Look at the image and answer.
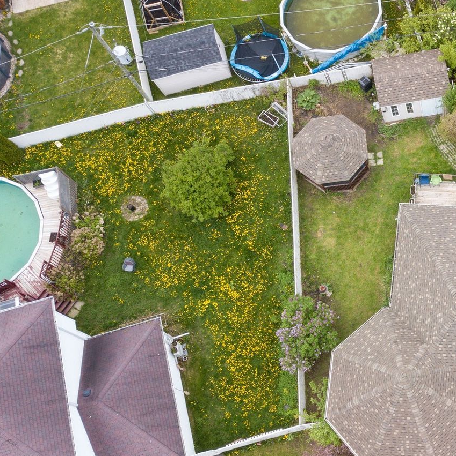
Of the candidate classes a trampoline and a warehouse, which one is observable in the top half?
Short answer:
trampoline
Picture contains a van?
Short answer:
No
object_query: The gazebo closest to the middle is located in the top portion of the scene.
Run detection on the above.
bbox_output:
[291,115,372,197]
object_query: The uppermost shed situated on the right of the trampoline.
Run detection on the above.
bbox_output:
[371,47,451,126]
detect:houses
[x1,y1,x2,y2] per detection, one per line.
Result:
[0,293,194,456]
[324,201,456,456]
